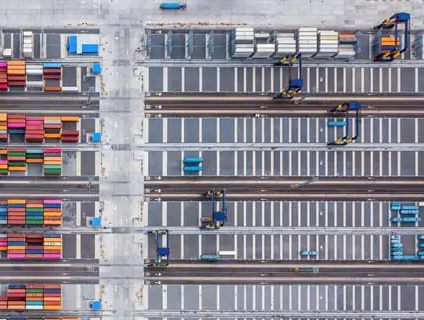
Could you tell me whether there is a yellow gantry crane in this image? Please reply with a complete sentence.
No, there appears to be no yellow gantry crane in this shot.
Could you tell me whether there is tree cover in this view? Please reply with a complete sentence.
No, no tree cover is visible.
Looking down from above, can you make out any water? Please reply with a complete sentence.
No, there's no water in this view.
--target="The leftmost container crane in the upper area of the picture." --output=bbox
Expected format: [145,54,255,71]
[274,51,304,98]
